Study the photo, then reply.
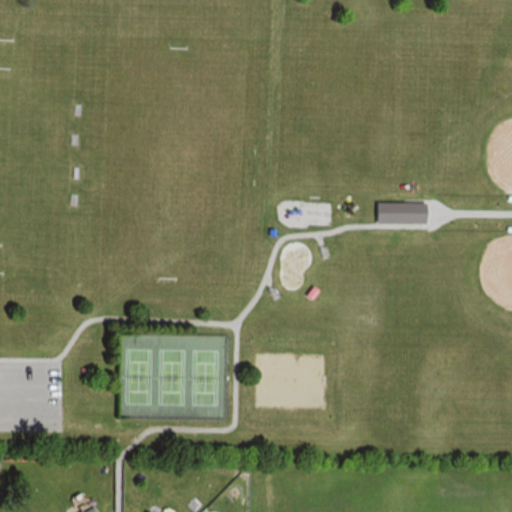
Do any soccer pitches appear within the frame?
Yes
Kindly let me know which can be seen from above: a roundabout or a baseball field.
baseball field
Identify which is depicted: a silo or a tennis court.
tennis court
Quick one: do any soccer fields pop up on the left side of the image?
Yes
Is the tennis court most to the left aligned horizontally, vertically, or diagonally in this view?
vertically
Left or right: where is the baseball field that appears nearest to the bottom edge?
right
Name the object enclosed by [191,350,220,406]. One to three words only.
tennis court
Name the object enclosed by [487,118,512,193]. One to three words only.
baseball field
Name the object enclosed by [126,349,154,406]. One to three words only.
tennis court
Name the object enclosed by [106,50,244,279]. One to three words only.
soccer field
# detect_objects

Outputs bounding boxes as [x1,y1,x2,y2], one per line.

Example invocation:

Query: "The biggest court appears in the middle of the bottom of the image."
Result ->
[255,354,325,409]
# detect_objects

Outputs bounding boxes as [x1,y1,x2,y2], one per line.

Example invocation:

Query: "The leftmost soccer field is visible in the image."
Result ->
[0,41,68,273]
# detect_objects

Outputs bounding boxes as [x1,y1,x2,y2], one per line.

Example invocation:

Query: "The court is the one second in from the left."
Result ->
[157,350,187,406]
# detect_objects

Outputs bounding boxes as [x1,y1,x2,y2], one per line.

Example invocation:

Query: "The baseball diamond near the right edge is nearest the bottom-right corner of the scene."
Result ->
[480,234,512,314]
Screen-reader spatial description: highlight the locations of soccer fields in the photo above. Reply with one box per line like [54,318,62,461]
[0,41,68,273]
[106,50,244,279]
